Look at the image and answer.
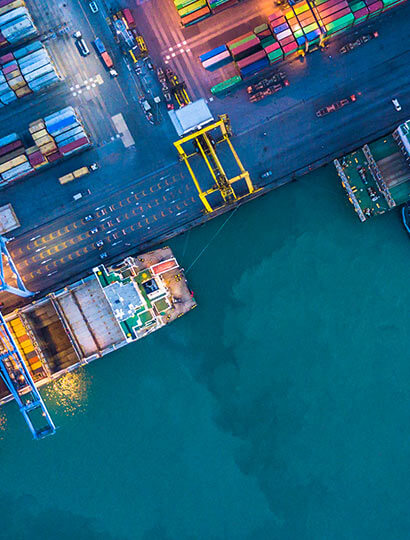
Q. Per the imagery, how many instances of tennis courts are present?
0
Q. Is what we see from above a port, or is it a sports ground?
port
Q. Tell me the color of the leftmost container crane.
blue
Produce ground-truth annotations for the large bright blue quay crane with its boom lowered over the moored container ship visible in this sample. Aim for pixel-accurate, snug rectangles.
[0,230,57,441]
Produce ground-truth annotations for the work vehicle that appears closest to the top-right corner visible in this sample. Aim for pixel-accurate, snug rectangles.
[340,28,382,54]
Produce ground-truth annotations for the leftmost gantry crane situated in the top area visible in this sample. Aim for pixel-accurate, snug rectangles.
[167,81,259,215]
